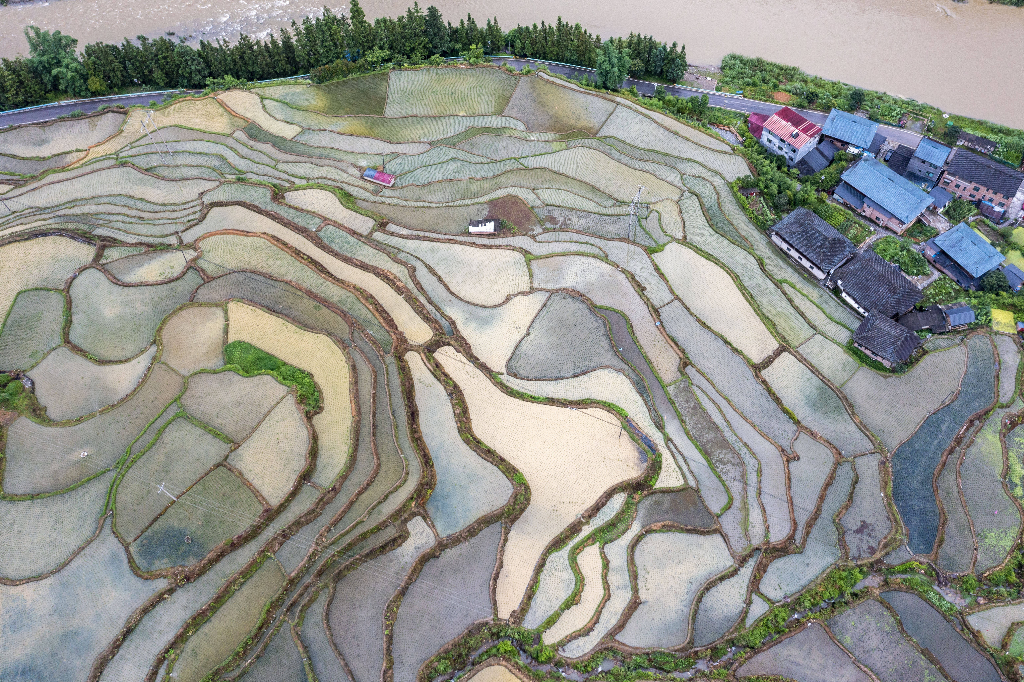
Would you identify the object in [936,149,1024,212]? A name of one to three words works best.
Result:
house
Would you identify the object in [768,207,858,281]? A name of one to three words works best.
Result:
house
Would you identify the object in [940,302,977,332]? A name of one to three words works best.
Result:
shed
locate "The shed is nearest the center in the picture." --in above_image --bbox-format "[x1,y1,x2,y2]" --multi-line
[469,218,500,238]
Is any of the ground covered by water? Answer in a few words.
Yes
